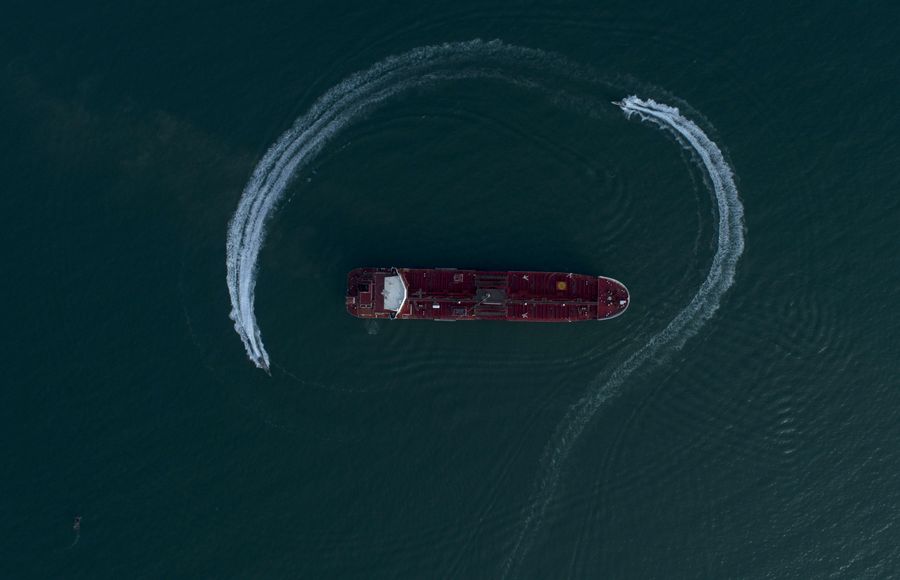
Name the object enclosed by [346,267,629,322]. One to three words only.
ship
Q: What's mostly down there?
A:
water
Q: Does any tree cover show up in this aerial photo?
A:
No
